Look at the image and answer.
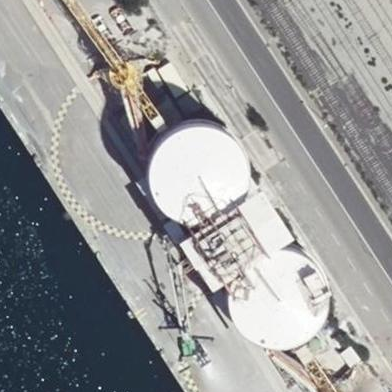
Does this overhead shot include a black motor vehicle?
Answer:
No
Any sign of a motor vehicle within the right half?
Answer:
No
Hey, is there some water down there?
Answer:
Yes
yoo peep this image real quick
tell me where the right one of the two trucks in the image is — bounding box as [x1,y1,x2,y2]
[108,4,135,35]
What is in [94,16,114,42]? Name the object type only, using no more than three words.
truck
